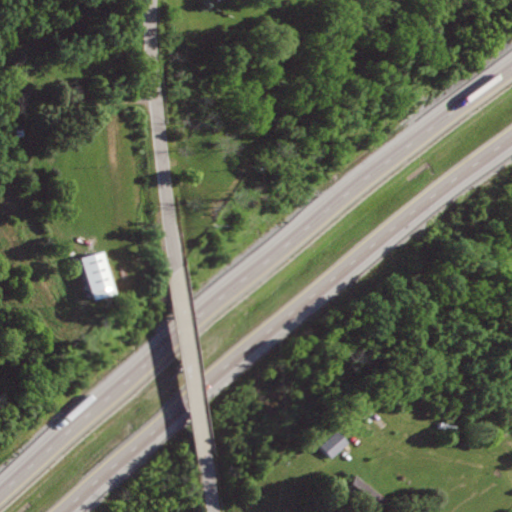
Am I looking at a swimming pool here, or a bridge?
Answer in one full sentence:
Looking from above, you can make out a bridge.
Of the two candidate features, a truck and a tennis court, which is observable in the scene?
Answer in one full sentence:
There is a truck in the scene.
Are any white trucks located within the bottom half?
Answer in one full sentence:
Yes, a white truck appears within the bottom half.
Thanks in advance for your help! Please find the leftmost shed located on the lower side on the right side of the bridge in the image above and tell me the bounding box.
[322,432,349,459]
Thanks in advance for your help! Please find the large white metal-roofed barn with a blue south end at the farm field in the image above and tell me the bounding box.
[82,251,118,302]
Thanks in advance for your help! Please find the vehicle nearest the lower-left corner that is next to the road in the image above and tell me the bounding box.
[57,394,98,432]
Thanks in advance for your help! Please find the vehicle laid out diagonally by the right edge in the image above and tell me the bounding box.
[456,73,504,110]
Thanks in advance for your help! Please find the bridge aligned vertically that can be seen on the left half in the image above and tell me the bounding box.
[166,255,216,472]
